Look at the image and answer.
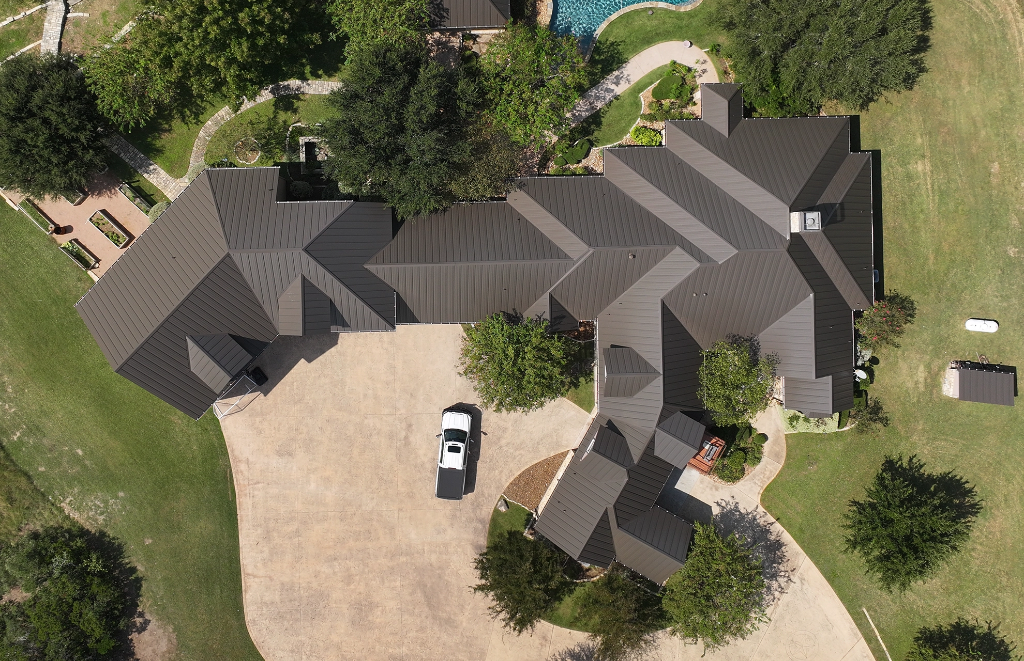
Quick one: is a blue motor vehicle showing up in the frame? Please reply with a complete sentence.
No, no blue motor vehicle is visible in the view.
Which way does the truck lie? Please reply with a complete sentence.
What the image shows is the truck lying up and down.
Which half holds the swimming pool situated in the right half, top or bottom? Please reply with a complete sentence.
The swimming pool situated in the right half is in the top half of the image.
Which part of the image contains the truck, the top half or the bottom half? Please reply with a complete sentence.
You can find the truck in the bottom half.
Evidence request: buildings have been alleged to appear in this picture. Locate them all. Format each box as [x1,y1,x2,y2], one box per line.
[943,366,1014,406]
[414,0,512,37]
[73,81,875,587]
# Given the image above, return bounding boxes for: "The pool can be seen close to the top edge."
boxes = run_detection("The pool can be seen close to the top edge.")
[545,0,702,65]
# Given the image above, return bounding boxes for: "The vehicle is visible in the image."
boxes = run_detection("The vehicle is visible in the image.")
[432,406,475,504]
